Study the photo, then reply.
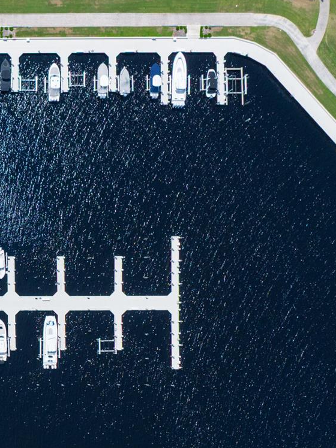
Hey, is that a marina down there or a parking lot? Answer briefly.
marina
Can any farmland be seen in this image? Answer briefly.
No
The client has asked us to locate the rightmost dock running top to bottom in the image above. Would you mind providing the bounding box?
[211,54,228,105]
